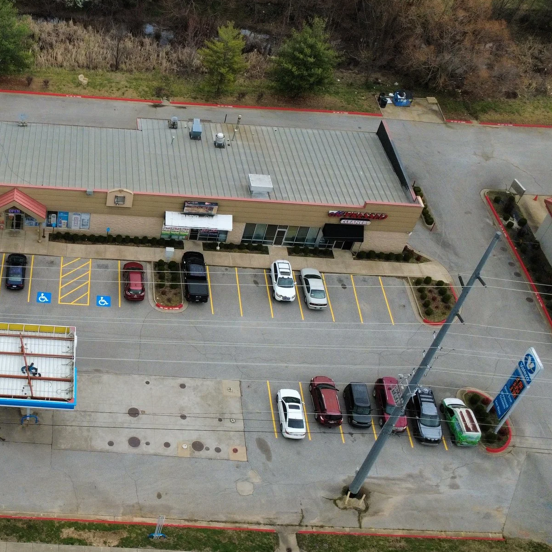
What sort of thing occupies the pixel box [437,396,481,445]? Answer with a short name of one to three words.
van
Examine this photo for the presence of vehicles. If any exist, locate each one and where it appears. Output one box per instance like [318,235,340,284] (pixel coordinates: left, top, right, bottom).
[273,384,307,436]
[308,373,346,424]
[3,253,26,291]
[273,260,301,305]
[437,396,481,445]
[340,373,375,429]
[408,387,444,445]
[370,374,408,431]
[181,252,208,302]
[121,262,145,304]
